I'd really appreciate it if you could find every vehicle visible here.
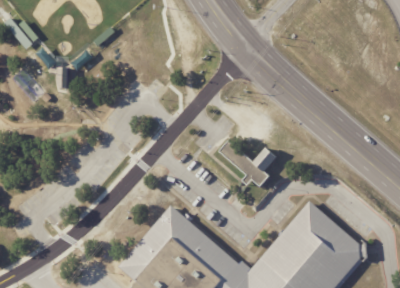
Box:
[220,190,228,198]
[364,135,373,143]
[217,218,226,226]
[180,154,190,163]
[204,175,214,184]
[176,180,187,190]
[195,168,204,178]
[188,162,196,170]
[200,171,209,181]
[208,210,216,220]
[192,197,201,206]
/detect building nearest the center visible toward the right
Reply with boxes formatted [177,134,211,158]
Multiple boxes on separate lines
[219,141,276,186]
